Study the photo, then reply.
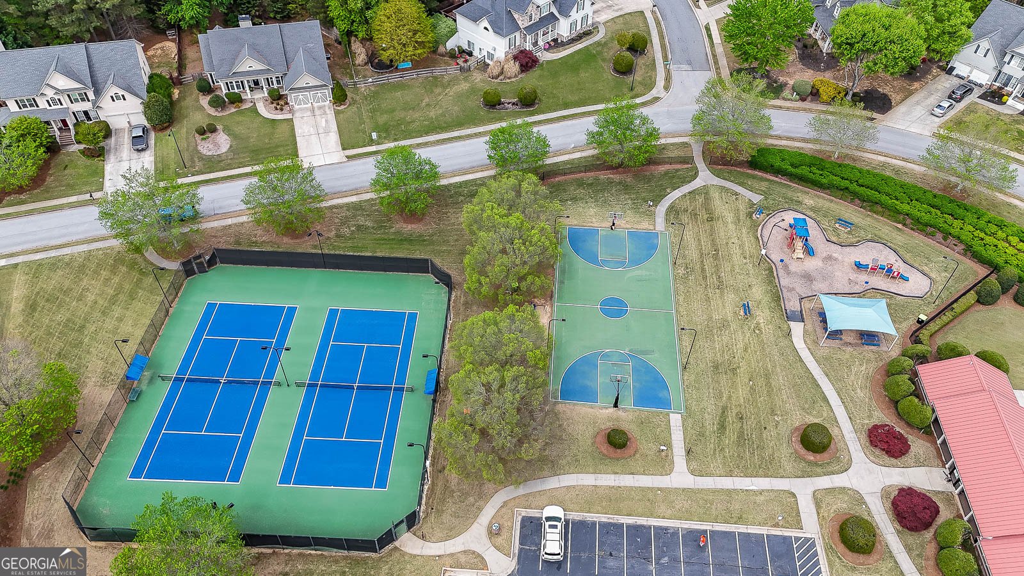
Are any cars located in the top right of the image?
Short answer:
Yes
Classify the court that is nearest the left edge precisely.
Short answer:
tennis court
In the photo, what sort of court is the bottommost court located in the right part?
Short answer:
basketball court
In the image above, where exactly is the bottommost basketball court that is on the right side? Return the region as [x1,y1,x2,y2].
[548,225,688,414]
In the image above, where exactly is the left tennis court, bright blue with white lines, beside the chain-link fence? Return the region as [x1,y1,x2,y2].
[77,266,324,533]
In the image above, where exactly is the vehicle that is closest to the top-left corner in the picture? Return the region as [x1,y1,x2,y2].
[130,127,148,152]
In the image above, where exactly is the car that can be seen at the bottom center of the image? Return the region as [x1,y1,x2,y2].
[541,509,566,562]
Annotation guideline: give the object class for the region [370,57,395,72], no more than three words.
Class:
trampoline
